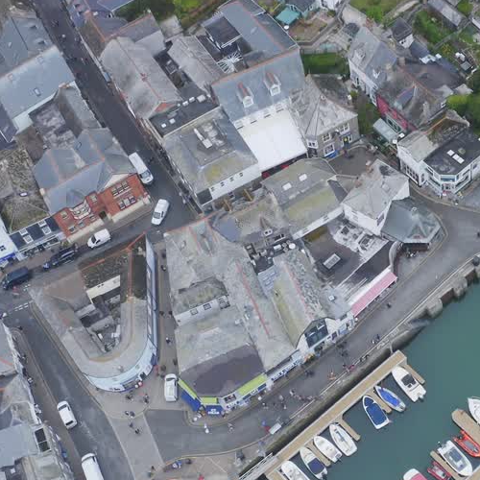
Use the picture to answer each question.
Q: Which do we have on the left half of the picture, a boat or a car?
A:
car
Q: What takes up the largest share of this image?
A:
buildings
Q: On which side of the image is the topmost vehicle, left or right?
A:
left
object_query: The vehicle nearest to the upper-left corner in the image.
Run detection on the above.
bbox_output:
[127,148,152,182]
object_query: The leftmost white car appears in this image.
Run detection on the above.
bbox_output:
[58,402,77,428]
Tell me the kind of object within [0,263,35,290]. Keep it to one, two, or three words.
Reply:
vehicle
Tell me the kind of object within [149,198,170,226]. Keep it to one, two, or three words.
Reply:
car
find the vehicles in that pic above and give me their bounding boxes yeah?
[164,374,178,402]
[127,148,152,182]
[78,454,104,480]
[85,224,114,248]
[0,263,35,290]
[149,198,170,226]
[58,402,77,428]
[44,245,76,269]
